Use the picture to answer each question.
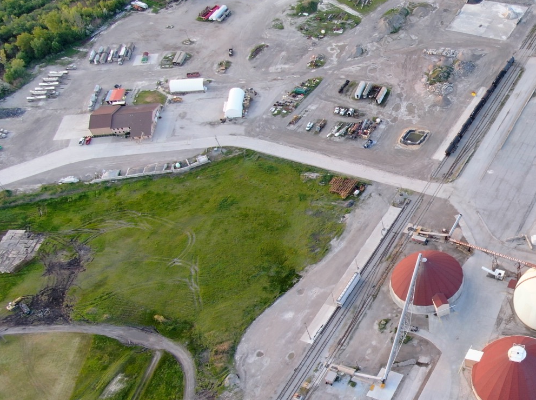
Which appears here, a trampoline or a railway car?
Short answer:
railway car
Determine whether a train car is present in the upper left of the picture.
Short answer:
No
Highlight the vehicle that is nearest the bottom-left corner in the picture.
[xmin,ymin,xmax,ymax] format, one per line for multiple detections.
[1,290,37,310]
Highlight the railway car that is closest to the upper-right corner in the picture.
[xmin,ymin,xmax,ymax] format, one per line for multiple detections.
[501,54,514,72]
